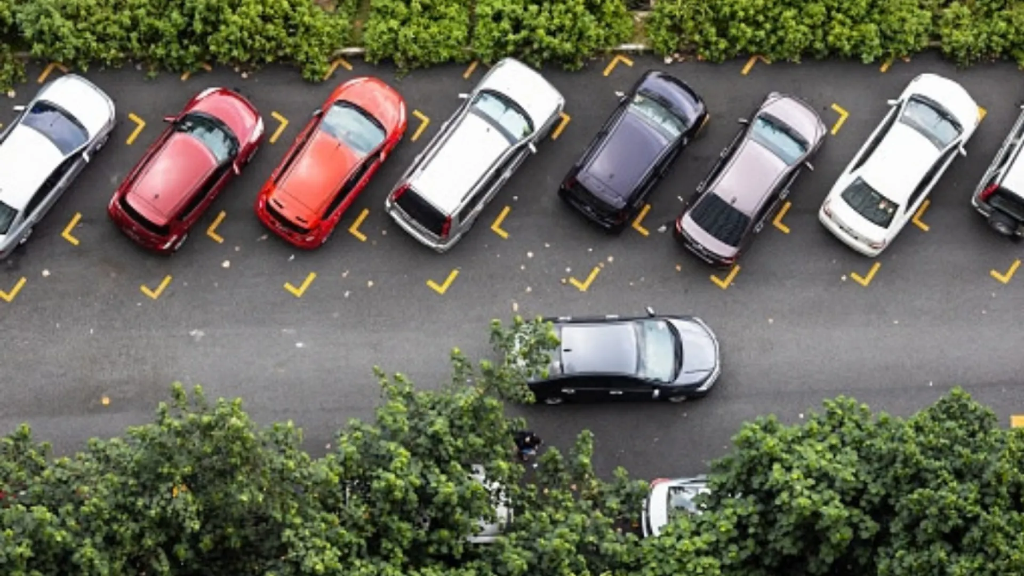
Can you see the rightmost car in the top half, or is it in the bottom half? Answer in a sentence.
You can find the rightmost car in the top half.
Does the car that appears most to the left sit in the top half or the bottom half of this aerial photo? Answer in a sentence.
It is in the top half that the car that appears most to the left appears.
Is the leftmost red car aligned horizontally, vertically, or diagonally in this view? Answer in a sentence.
The leftmost red car has been laid out diagonally relative to the frame.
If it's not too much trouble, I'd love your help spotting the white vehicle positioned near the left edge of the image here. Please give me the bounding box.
[0,71,117,268]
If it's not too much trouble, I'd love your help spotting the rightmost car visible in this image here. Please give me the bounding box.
[971,114,1024,238]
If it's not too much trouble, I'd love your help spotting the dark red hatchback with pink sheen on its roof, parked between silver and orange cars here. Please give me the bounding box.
[111,84,262,258]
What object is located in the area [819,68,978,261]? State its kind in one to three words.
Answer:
car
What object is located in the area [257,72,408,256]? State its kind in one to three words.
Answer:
car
